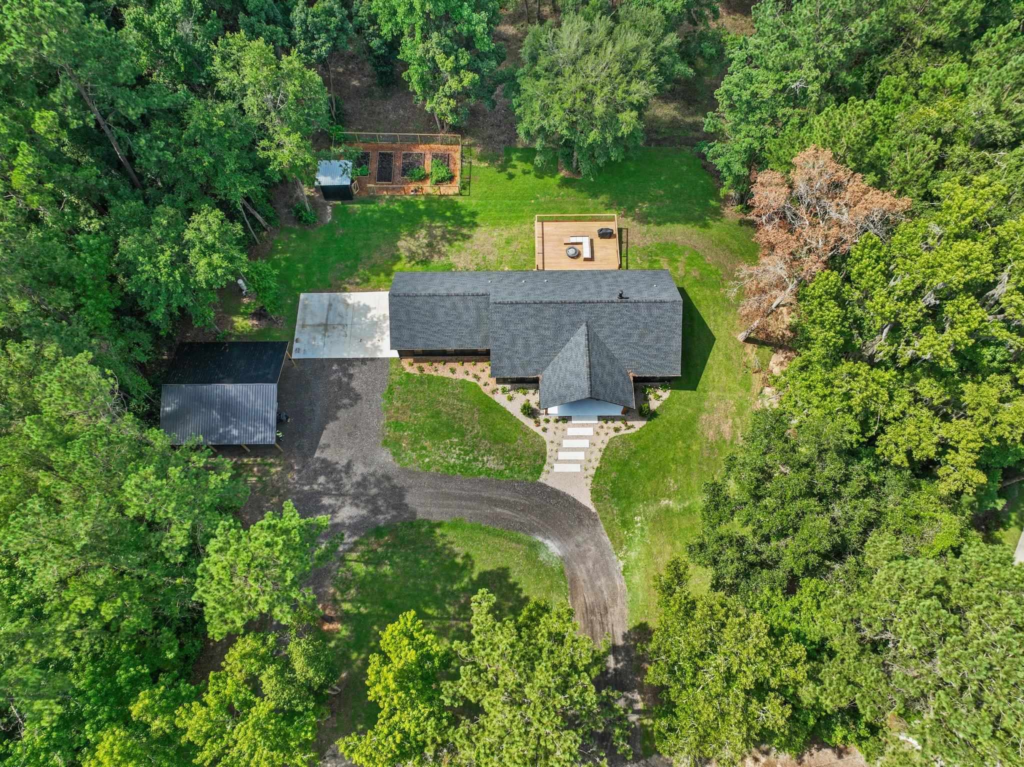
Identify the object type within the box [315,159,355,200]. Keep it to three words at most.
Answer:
shed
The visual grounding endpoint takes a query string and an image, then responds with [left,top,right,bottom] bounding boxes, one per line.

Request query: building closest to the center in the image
[387,270,684,417]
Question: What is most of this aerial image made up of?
trees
